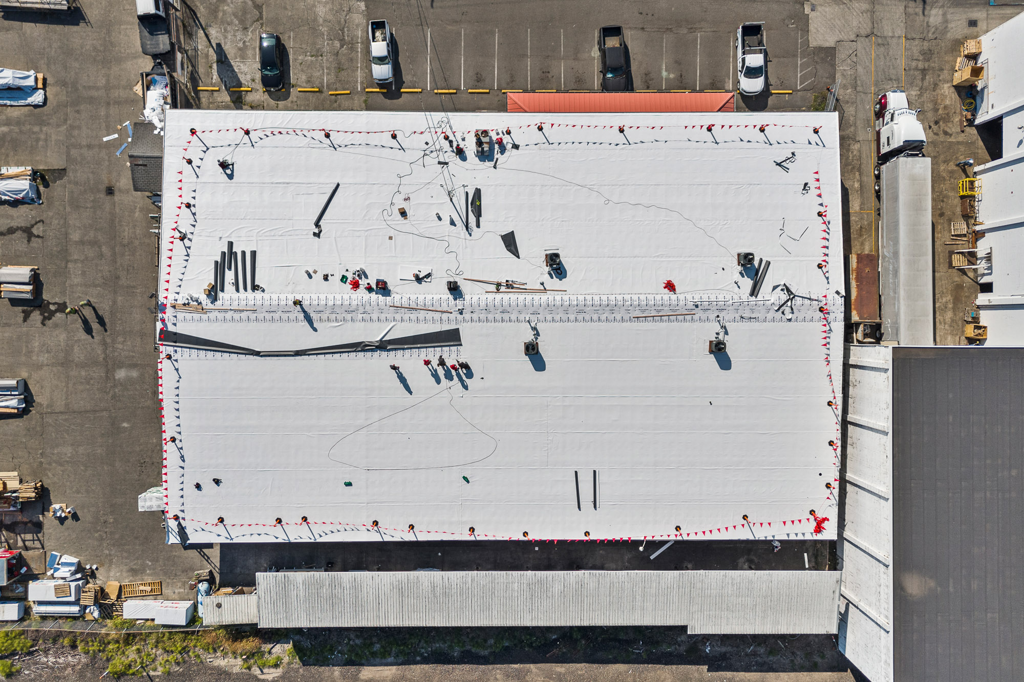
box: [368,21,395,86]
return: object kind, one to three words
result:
truck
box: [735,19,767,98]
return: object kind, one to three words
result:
truck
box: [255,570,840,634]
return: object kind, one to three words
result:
shed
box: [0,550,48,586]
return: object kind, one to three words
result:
trailer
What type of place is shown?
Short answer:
industrial area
